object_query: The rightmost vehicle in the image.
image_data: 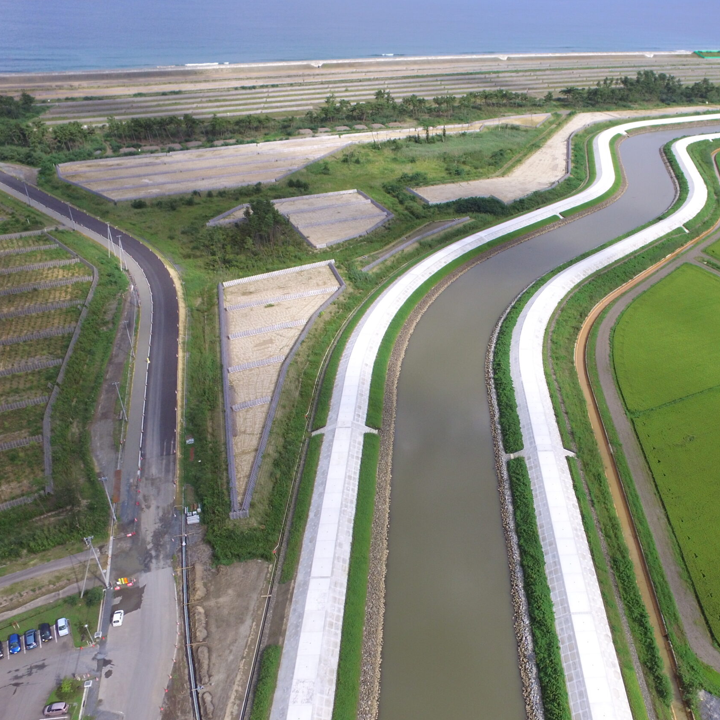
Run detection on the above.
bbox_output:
[112,607,125,625]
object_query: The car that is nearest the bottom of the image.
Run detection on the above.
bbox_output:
[39,701,71,718]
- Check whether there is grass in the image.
Yes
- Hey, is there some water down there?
Yes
